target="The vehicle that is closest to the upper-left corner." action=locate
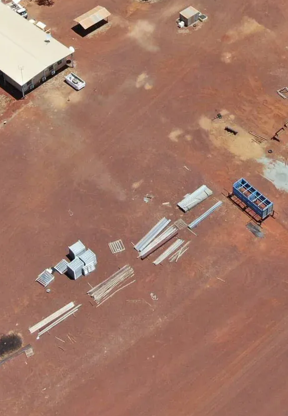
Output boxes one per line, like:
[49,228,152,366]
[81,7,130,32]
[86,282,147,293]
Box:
[7,2,34,22]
